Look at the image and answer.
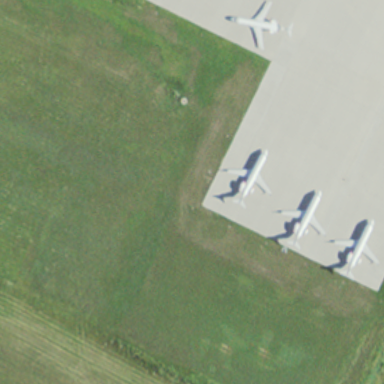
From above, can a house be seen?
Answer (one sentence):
No, I find no house anywhere in the image.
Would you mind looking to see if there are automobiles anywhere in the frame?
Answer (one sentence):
No, no automobile is visible in the view.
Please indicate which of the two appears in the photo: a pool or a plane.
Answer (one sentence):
It is a plane that can be seen here.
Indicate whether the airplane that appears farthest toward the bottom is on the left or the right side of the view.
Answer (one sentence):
The airplane that appears farthest toward the bottom appears in the right half of the scene.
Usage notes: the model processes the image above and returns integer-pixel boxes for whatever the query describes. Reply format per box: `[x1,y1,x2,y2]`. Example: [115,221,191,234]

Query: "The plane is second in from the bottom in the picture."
[282,191,326,248]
